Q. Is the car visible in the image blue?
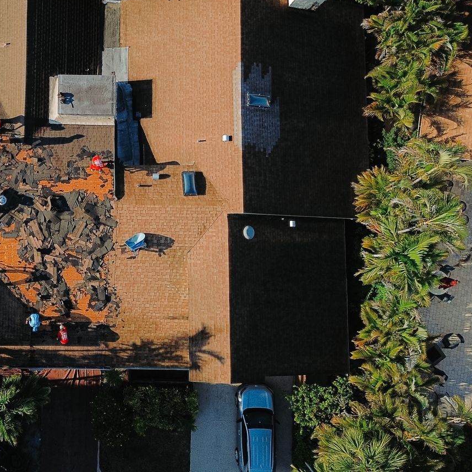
Yes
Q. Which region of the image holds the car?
bottom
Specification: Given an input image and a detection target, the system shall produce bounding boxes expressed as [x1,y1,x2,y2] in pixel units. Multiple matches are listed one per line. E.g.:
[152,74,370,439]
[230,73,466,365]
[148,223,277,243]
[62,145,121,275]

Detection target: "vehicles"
[234,381,282,472]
